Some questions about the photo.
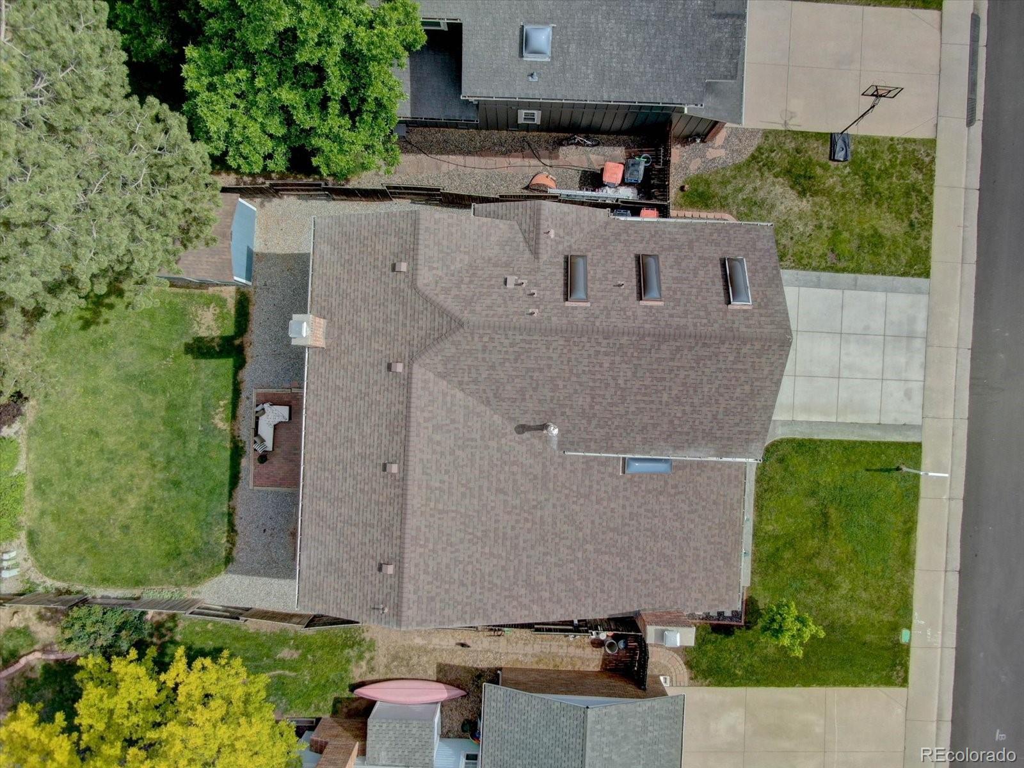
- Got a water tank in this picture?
No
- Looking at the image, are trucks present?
No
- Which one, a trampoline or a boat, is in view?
boat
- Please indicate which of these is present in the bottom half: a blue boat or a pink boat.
pink boat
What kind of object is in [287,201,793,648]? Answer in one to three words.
house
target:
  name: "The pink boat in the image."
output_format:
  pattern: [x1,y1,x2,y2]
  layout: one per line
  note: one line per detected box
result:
[354,676,467,704]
